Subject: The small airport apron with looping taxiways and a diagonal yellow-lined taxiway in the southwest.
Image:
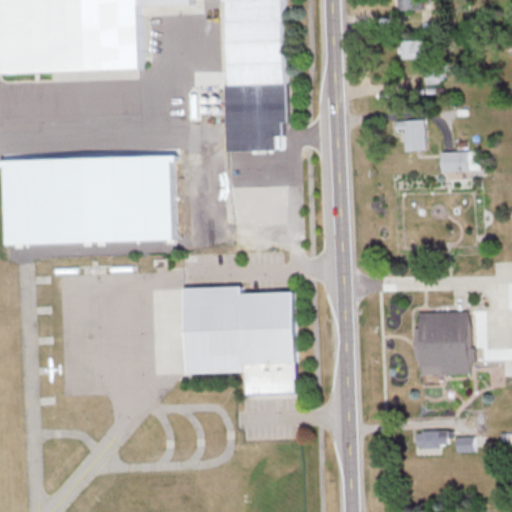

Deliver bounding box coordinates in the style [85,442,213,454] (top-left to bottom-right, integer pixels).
[20,262,236,512]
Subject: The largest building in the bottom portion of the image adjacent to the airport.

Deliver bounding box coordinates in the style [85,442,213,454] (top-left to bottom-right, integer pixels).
[184,287,298,394]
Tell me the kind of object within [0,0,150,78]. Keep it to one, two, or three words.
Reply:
hangar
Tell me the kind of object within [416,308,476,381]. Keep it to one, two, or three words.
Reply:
house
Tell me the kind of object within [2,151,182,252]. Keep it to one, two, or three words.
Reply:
hangar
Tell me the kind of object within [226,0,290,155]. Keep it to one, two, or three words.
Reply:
building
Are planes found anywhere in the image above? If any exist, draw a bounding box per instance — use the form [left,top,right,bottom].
[43,356,60,384]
